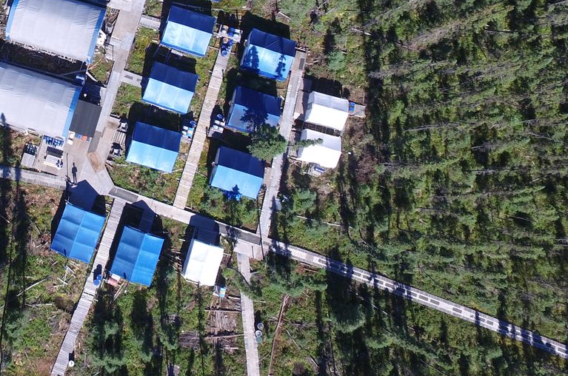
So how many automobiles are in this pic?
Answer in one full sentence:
Not a single automobile can be seen.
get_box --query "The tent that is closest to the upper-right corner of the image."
[303,91,349,132]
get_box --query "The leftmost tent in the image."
[51,202,104,265]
